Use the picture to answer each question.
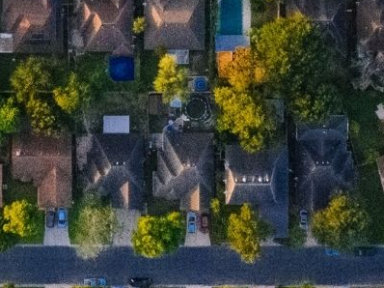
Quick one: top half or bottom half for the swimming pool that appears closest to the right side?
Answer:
top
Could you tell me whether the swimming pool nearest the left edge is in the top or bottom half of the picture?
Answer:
top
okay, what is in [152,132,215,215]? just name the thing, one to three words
house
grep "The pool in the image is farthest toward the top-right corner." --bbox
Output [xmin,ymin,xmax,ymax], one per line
[218,0,244,36]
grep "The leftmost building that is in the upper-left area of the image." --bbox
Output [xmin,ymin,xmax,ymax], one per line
[0,0,63,53]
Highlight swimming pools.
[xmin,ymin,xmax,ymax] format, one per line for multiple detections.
[218,0,244,36]
[194,77,206,91]
[110,56,134,81]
